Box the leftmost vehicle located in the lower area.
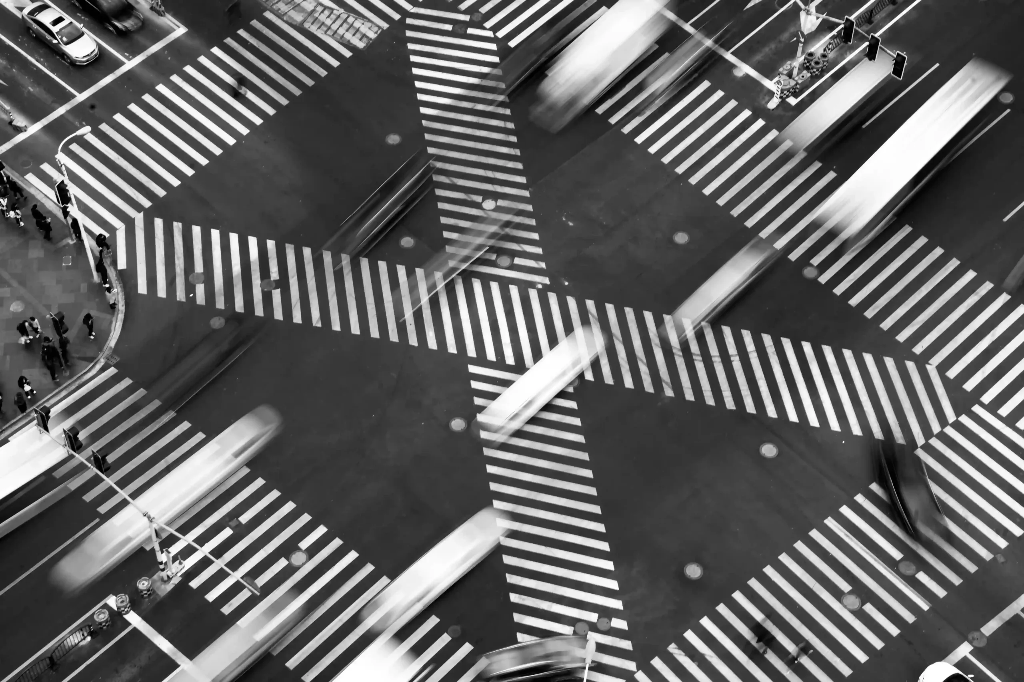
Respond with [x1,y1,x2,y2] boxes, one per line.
[0,437,88,556]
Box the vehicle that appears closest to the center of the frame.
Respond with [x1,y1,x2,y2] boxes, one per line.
[485,339,584,430]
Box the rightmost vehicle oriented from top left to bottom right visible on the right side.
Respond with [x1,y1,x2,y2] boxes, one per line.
[874,438,955,542]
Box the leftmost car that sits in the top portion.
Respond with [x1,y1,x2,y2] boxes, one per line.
[18,0,99,66]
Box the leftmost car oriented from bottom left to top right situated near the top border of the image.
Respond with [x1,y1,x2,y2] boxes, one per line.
[500,3,577,76]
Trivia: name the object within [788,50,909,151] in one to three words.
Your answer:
van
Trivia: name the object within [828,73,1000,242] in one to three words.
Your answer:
vehicle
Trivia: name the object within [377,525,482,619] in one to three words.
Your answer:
car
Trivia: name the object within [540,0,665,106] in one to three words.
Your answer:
vehicle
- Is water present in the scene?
No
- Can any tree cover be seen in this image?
No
